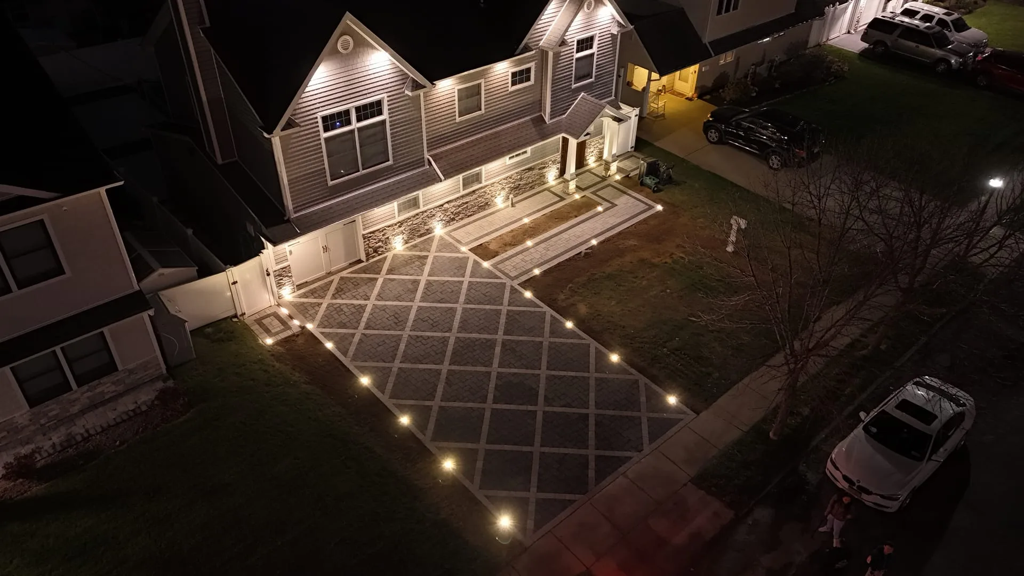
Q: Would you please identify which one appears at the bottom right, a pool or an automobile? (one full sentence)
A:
Visible at the bottom right is an automobile.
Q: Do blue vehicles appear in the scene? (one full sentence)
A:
No, there appears to be no blue vehicle in this shot.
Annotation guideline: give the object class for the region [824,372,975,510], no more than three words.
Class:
car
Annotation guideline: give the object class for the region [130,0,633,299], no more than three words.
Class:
house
